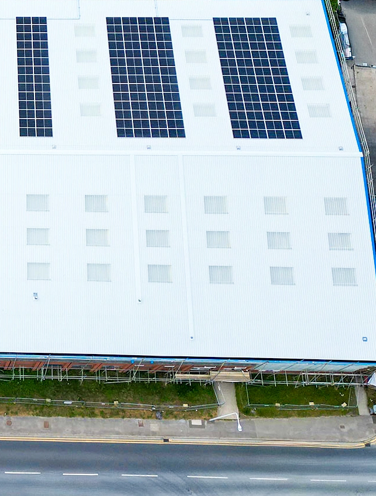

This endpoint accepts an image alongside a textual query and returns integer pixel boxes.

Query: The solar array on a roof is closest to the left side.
[16,16,53,137]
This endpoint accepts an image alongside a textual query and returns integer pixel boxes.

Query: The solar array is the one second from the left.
[107,17,186,139]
